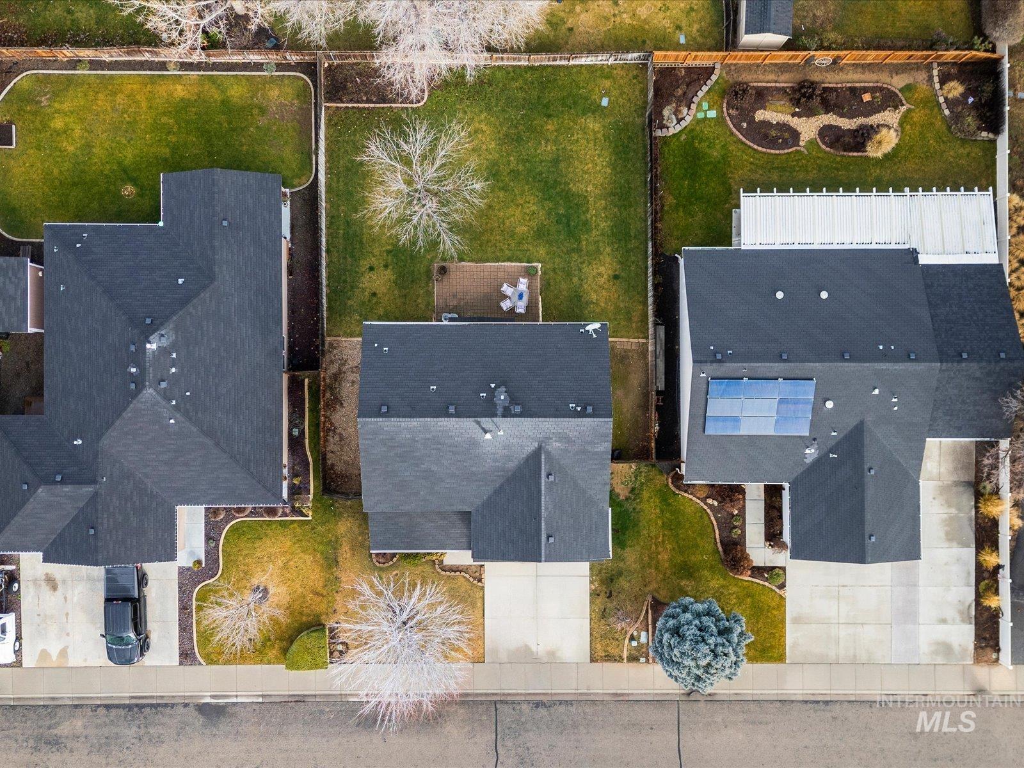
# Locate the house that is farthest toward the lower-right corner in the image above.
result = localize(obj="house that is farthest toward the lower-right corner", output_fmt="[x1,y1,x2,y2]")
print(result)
[665,246,1024,565]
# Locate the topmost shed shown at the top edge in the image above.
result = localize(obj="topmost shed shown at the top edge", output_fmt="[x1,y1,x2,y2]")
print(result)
[739,0,792,49]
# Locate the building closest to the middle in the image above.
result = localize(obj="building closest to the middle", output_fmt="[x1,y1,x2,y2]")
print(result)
[356,318,612,567]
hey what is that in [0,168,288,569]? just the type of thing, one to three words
house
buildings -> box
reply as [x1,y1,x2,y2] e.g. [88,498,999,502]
[665,246,1024,565]
[0,168,288,569]
[739,0,792,49]
[356,318,612,567]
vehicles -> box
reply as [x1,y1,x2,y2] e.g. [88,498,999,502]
[97,565,148,671]
[0,568,20,669]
